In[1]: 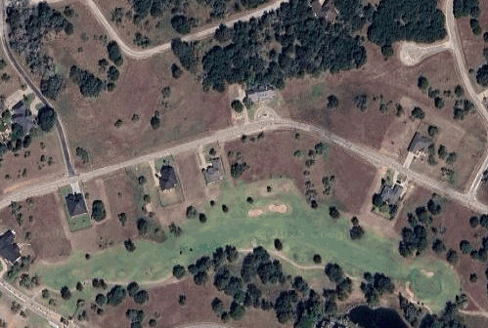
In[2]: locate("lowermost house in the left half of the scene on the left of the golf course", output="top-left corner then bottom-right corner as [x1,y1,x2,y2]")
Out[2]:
[0,231,20,262]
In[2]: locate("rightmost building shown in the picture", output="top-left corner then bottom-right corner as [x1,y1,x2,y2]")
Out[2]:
[406,133,432,153]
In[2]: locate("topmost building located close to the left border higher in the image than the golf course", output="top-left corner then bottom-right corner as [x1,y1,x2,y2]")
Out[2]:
[13,108,33,134]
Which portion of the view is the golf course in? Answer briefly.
bottom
